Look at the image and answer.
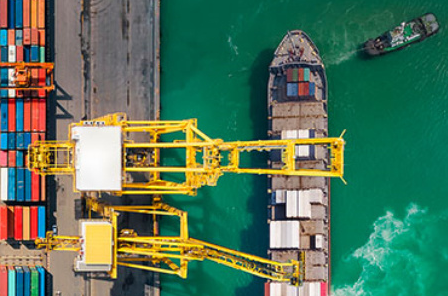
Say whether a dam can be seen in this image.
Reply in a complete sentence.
No, there appears to be no dam in this shot.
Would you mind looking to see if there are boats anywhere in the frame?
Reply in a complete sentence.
Yes, you can see a boat in this photo.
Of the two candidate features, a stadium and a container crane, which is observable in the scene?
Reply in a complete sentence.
I can see a container crane in this picture.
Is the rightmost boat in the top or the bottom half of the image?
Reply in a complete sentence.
It is in the top half that the rightmost boat appears.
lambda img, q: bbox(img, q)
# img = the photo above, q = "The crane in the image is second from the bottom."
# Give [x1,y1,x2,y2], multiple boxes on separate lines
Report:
[29,109,355,197]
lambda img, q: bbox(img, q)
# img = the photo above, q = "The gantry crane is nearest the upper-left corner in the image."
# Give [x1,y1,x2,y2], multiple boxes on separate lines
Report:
[0,61,54,99]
